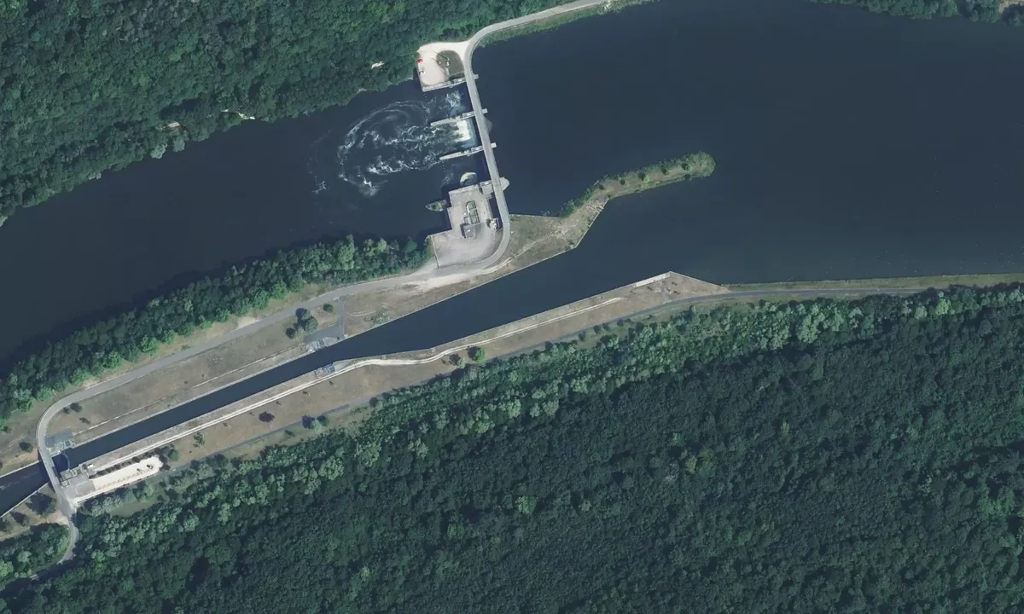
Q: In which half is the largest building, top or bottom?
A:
top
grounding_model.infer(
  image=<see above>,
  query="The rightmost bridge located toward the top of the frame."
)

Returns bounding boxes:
[464,70,511,235]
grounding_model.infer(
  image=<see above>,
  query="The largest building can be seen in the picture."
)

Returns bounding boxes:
[447,180,494,231]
